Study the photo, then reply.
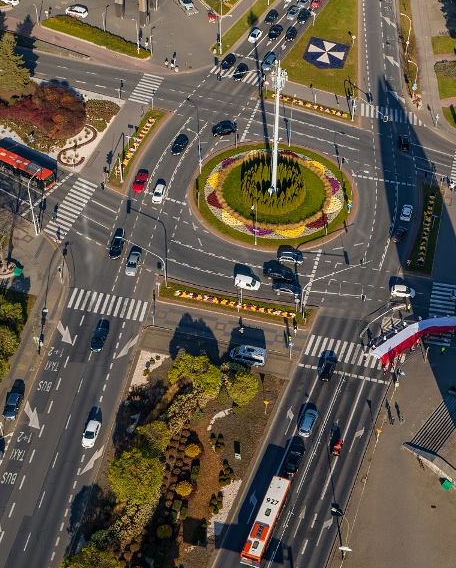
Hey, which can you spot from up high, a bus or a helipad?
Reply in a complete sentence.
I can see a bus in this picture.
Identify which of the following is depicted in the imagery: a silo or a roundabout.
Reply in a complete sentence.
Looking from above, you can make out a roundabout.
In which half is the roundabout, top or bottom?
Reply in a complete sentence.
You can find the roundabout in the top half.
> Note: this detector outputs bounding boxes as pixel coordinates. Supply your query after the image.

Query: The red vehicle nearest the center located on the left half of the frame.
[133,171,148,193]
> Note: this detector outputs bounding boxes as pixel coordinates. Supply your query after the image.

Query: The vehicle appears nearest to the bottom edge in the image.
[244,477,299,568]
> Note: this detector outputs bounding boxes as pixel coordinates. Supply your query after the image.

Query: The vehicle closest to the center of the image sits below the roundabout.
[230,271,263,292]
